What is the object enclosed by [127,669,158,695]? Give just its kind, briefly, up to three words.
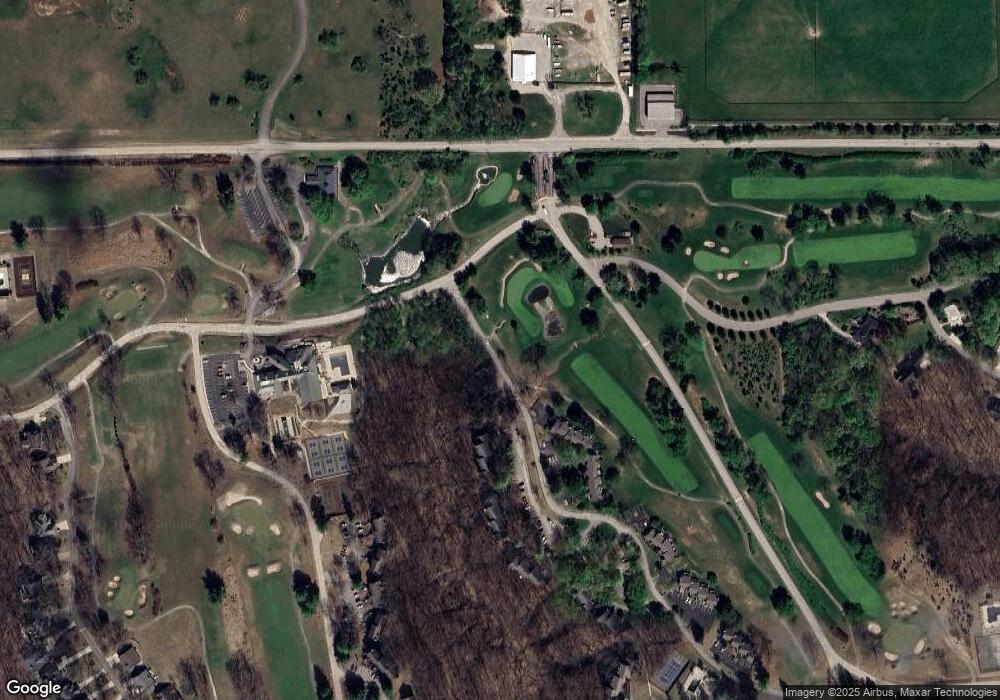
house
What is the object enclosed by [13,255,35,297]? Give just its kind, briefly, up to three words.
sports court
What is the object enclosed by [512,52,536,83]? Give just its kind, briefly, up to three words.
shed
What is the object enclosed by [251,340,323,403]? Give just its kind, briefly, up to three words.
building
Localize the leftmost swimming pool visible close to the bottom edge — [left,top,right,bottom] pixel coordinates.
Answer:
[685,666,706,692]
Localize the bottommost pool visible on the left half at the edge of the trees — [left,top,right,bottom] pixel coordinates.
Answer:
[322,345,356,383]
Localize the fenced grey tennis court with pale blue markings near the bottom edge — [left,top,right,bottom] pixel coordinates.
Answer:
[648,652,689,692]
